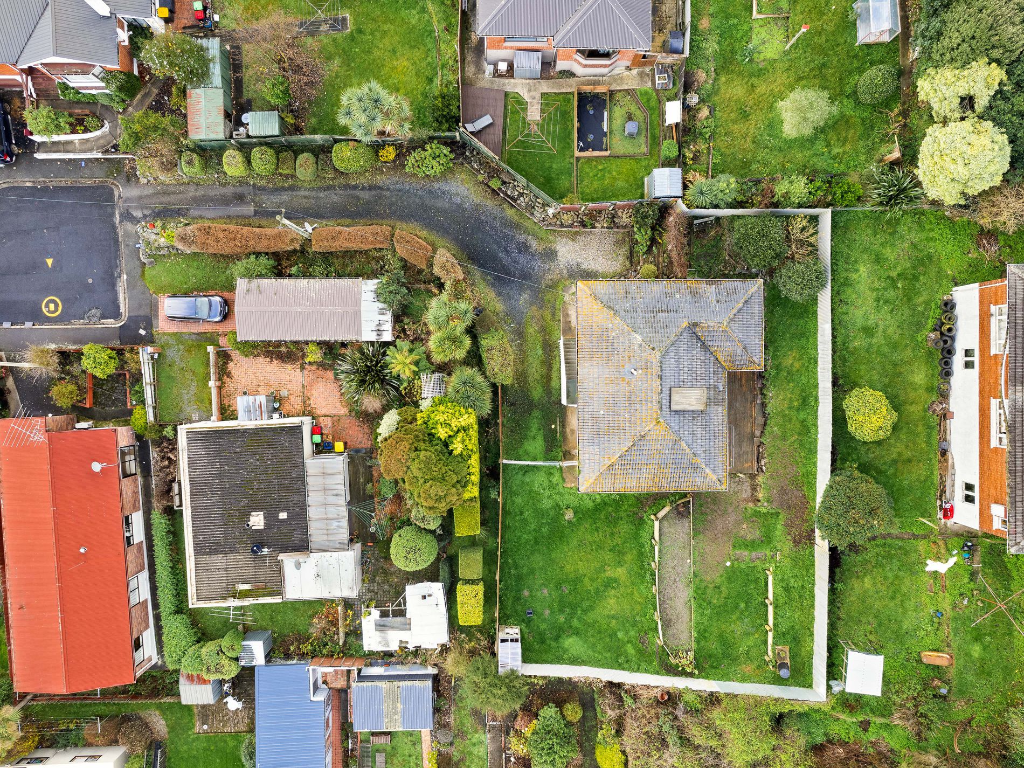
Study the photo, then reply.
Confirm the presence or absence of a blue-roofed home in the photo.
Yes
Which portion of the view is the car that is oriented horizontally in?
left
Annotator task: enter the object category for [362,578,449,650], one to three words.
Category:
shed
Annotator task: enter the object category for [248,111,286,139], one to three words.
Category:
shed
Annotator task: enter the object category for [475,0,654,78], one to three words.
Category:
house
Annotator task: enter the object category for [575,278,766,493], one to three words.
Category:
house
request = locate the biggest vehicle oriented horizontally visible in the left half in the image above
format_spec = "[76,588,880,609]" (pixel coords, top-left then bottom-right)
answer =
[164,292,231,324]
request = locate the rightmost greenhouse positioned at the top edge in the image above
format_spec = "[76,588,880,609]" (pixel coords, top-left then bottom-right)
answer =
[845,0,900,55]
